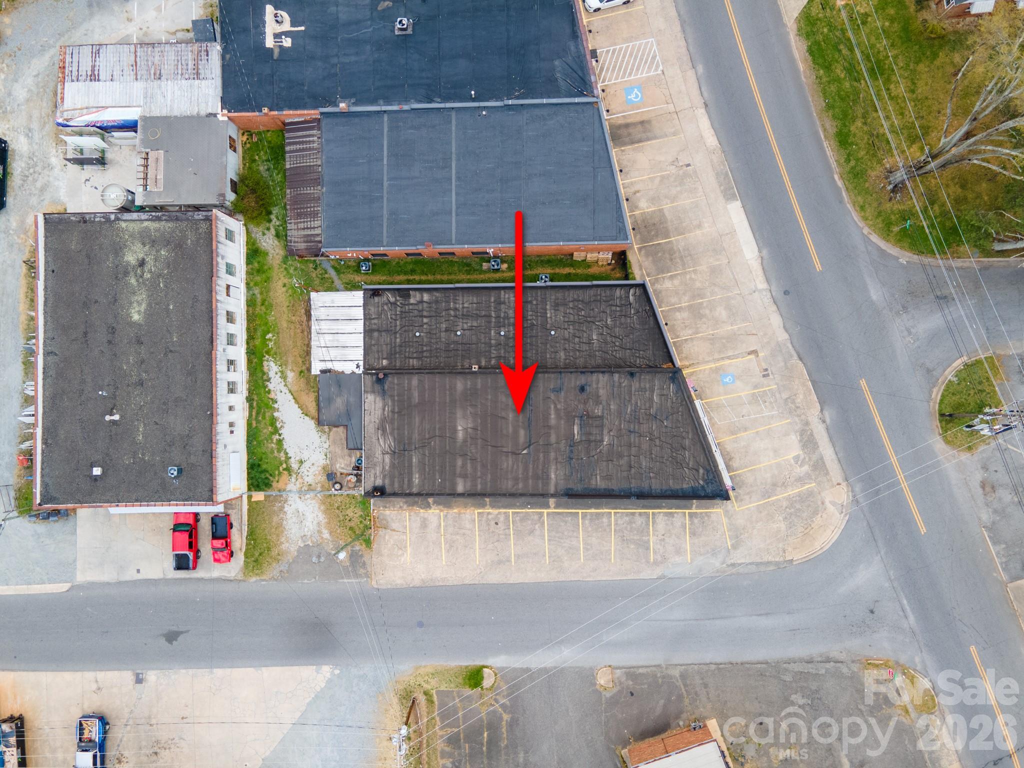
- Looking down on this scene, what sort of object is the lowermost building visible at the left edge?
warehouse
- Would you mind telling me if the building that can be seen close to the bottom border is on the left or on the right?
right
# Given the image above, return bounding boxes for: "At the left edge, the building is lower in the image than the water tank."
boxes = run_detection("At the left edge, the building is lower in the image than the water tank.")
[34,209,243,514]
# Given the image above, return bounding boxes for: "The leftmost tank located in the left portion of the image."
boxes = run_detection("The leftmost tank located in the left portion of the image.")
[102,184,136,212]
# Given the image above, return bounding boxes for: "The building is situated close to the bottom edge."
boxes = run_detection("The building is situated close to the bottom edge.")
[625,722,729,768]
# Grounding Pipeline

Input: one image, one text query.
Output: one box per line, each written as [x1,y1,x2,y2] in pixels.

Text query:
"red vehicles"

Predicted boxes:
[207,513,236,566]
[169,512,202,572]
